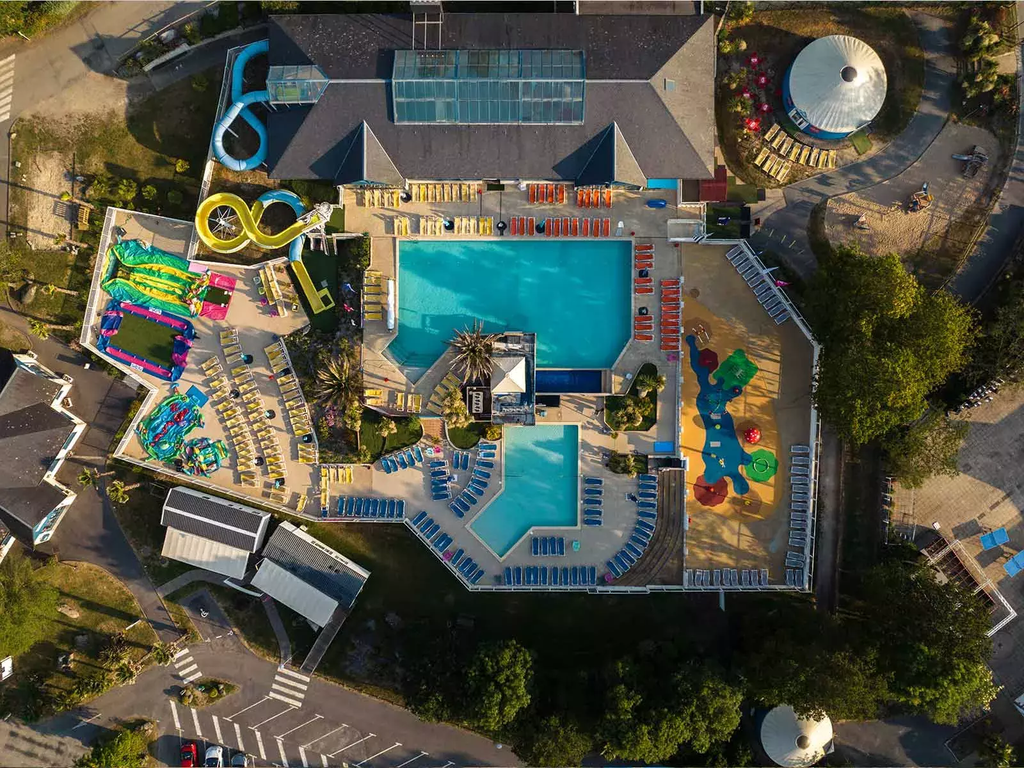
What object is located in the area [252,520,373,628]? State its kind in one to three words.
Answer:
building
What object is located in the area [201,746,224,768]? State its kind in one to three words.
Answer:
car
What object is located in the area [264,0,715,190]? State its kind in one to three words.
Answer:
building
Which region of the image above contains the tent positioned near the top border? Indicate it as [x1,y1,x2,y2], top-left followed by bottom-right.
[777,35,887,144]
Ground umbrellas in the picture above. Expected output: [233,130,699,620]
[223,389,239,400]
[274,368,291,378]
[299,433,312,443]
[443,219,454,231]
[535,221,545,232]
[638,269,649,278]
[249,456,264,467]
[400,189,411,202]
[638,306,649,316]
[238,353,253,364]
[261,409,276,419]
[496,219,507,231]
[272,477,286,487]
